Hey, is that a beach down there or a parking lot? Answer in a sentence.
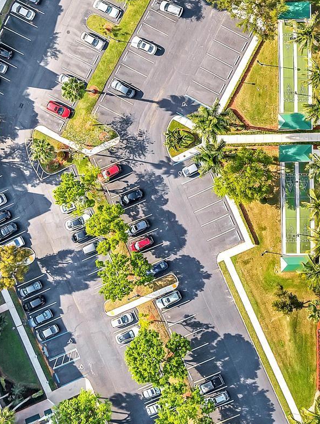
It's a parking lot.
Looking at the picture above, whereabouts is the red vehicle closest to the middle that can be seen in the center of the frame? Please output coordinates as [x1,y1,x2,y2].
[129,234,155,252]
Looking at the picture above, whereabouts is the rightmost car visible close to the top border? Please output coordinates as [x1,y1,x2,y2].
[156,0,187,20]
